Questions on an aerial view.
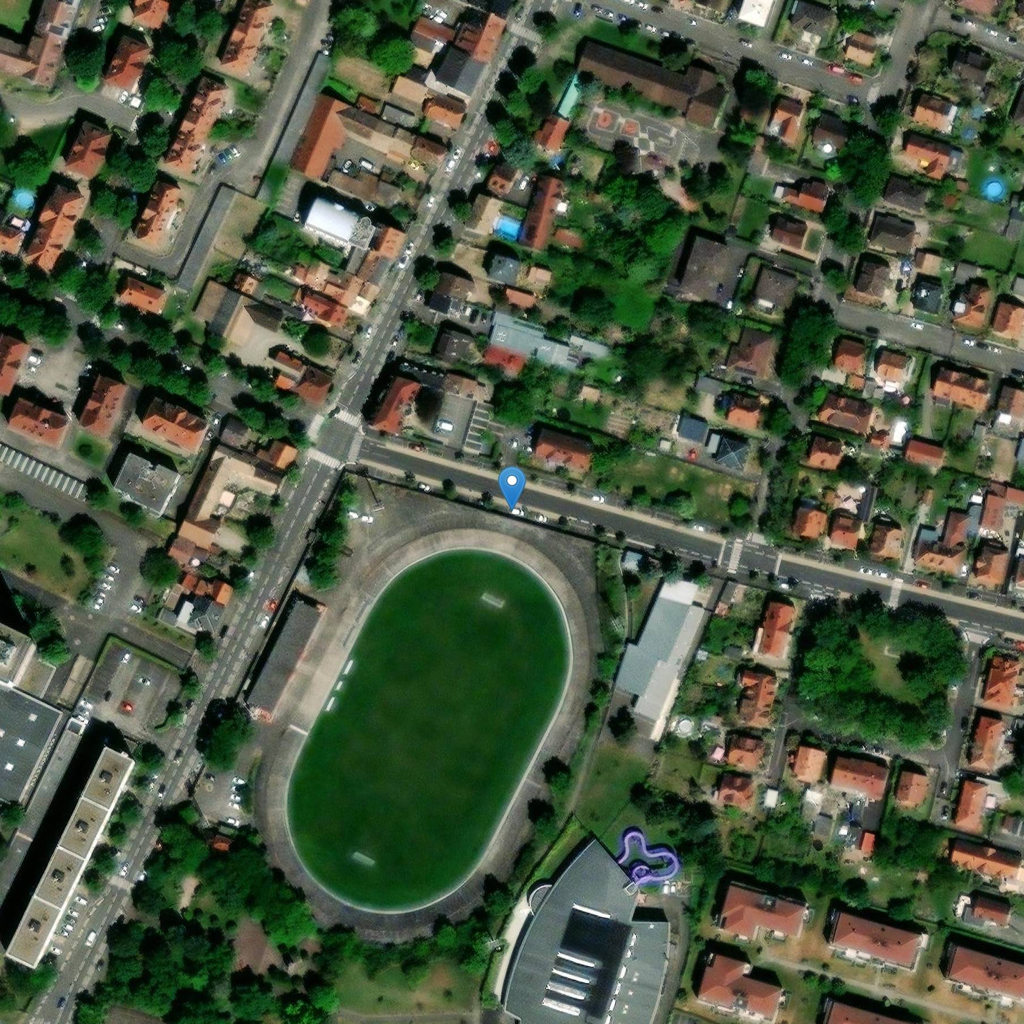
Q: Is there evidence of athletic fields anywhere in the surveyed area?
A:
Yes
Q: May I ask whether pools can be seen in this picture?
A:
Yes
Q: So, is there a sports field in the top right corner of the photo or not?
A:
No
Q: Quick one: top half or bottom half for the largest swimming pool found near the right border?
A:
top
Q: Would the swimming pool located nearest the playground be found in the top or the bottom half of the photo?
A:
top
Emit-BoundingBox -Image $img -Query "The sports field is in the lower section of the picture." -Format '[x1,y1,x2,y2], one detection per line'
[290,552,567,908]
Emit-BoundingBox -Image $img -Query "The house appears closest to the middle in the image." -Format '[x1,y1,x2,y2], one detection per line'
[532,423,596,467]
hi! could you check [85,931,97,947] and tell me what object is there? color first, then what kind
white vehicle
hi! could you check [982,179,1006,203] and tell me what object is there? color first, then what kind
blue swimming pool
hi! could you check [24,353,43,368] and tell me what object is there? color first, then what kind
white vehicle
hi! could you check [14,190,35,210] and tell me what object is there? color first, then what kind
blue swimming pool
